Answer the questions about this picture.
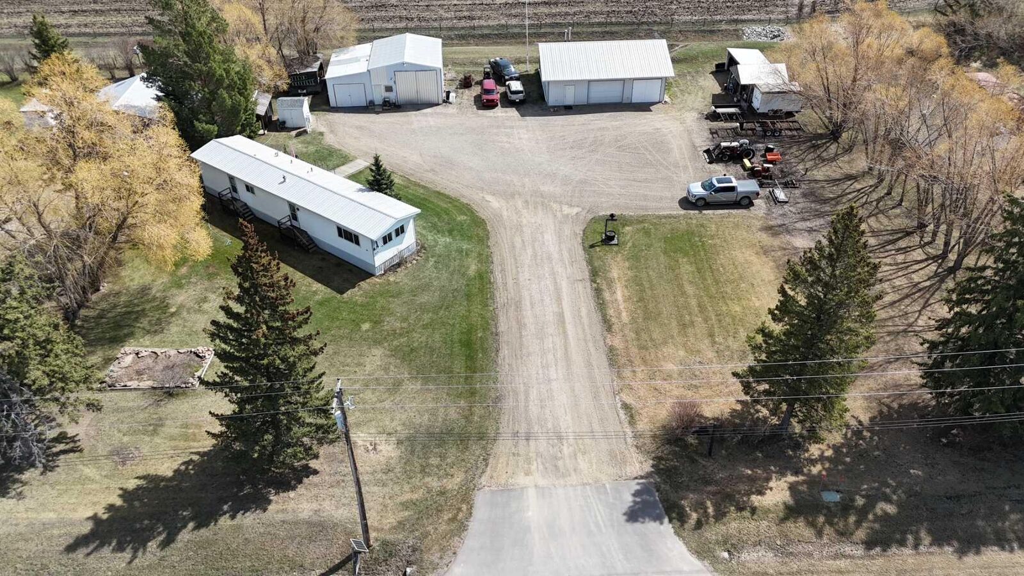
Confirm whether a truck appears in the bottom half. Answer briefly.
No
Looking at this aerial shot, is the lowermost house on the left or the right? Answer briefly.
left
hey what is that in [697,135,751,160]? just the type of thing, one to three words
work vehicle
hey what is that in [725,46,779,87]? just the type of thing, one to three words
shed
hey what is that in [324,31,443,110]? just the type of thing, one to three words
building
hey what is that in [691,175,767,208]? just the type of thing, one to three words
truck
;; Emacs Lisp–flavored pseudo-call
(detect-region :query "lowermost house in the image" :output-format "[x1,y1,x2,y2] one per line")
[188,138,421,275]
